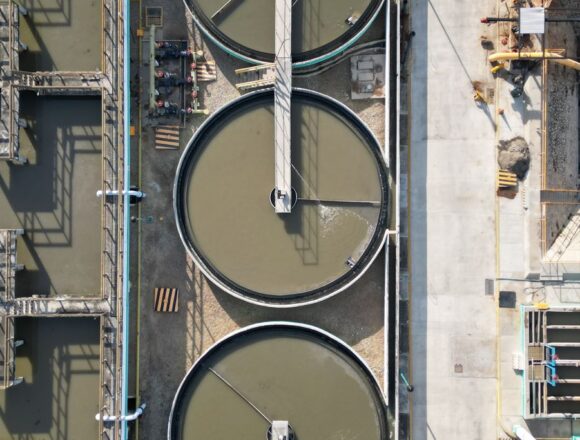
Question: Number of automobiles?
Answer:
0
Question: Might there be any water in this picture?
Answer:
Yes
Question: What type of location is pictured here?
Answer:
industrial area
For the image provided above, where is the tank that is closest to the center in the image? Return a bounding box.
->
[173,88,390,306]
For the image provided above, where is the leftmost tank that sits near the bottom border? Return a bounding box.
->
[169,319,386,440]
